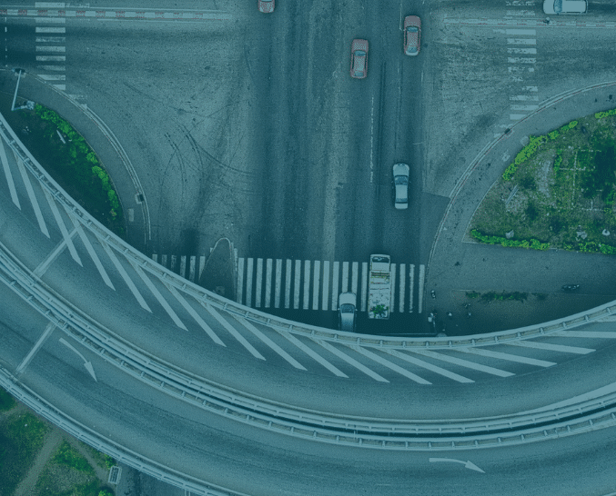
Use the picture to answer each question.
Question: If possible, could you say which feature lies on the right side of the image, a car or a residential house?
car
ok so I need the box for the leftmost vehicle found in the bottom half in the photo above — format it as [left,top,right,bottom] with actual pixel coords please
[338,297,357,331]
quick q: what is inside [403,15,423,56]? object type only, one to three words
car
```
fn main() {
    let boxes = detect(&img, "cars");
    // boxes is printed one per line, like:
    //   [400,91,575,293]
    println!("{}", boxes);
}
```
[338,297,357,331]
[403,15,423,56]
[391,165,413,209]
[259,0,275,14]
[349,39,369,79]
[544,0,588,16]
